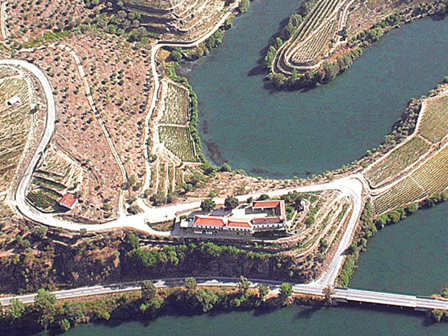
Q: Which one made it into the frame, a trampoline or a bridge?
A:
bridge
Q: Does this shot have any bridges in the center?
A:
No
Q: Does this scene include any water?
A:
Yes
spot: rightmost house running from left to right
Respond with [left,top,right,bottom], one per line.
[193,199,286,237]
